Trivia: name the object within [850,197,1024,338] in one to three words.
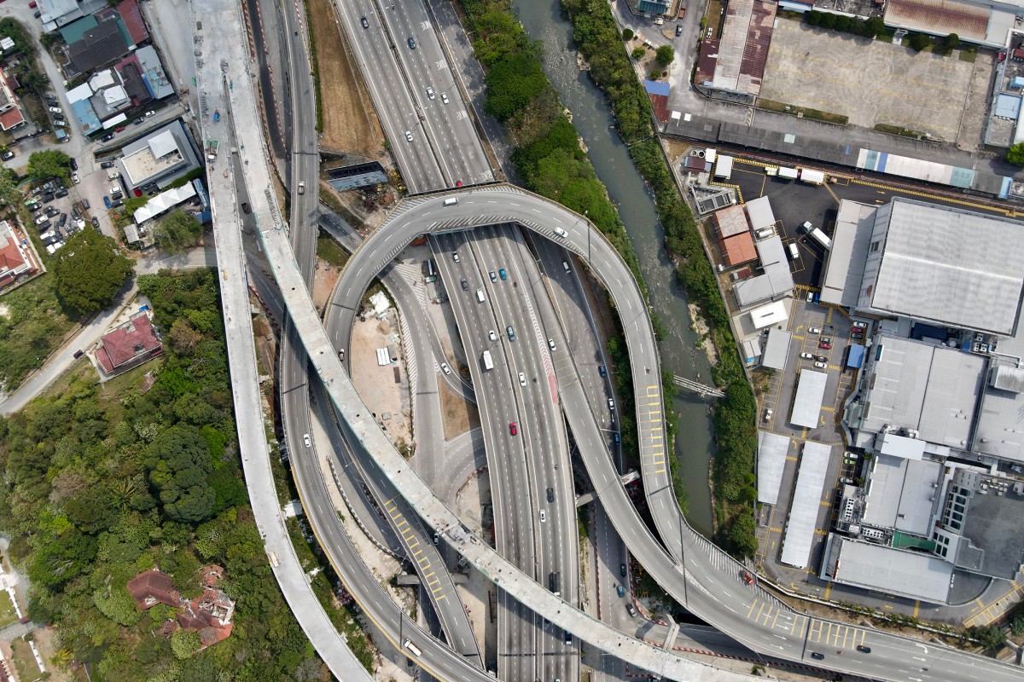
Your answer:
shed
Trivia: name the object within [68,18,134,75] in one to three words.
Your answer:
house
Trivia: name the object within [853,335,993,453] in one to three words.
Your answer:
building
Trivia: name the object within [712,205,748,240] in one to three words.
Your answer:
building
